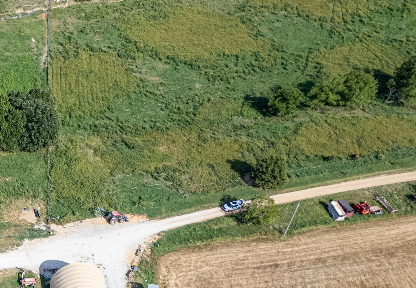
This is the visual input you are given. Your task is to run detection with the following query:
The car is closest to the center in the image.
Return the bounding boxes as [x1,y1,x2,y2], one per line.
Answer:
[222,192,250,209]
